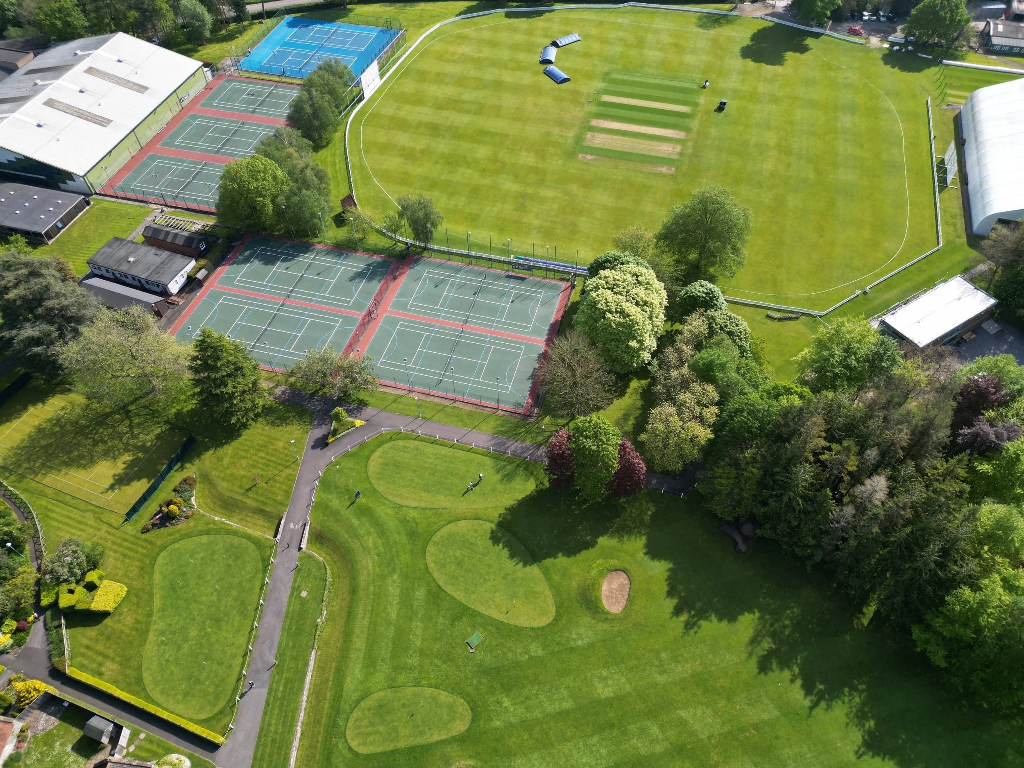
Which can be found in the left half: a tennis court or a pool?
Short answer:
tennis court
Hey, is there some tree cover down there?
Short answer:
Yes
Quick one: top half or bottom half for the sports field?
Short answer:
top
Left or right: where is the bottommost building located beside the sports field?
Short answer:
right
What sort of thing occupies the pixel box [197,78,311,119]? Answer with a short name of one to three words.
tennis court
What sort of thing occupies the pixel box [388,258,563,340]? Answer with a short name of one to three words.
tennis court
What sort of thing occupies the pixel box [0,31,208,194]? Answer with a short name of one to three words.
building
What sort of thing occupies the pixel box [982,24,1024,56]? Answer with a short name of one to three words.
shed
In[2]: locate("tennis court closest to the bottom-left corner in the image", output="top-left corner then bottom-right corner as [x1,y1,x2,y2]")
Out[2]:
[0,377,188,520]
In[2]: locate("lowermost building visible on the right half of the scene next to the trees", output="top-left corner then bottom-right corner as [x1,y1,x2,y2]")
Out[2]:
[868,276,1001,359]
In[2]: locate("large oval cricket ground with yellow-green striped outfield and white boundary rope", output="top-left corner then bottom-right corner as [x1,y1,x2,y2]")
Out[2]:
[346,5,940,315]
